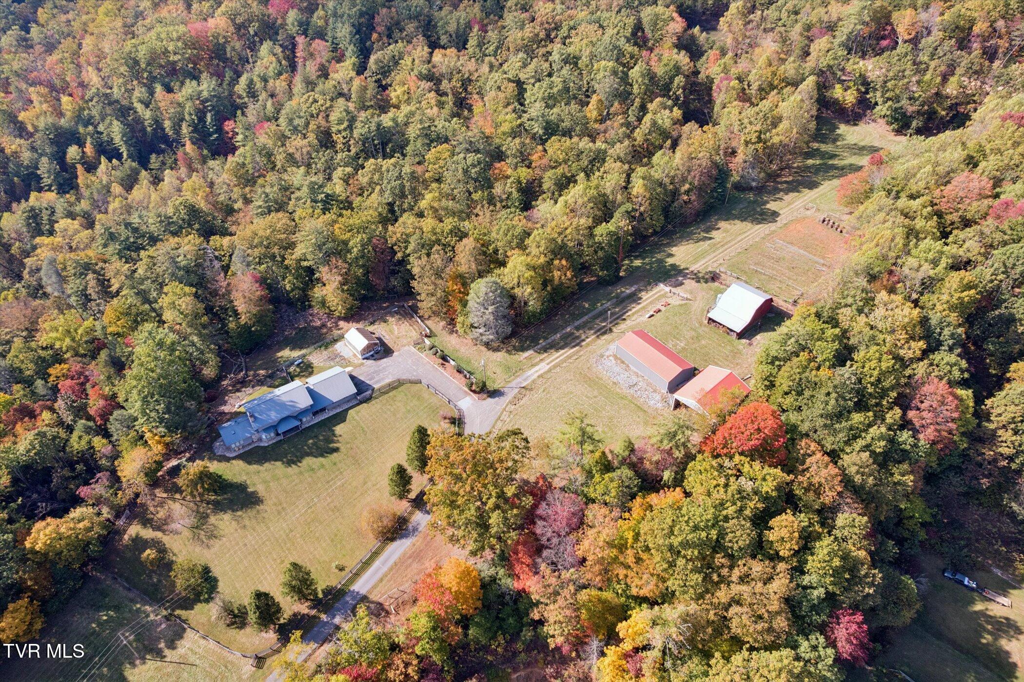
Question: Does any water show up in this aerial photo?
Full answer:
No, no water is visible.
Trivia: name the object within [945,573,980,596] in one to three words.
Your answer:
truck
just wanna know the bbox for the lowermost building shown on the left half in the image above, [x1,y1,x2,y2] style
[217,366,357,452]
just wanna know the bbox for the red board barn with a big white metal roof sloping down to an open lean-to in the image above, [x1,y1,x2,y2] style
[706,281,773,338]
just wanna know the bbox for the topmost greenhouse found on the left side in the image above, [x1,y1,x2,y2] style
[344,327,380,359]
